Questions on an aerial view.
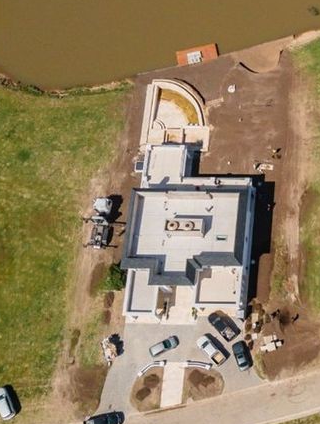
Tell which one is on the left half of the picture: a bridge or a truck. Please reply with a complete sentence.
Visible on the left half of the picture is a truck.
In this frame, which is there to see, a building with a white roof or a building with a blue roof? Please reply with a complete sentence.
There is a building with a white roof in the scene.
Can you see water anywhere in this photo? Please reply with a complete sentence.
Yes, some water is visible.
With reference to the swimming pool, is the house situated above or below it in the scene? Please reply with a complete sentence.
Looking at the scene, the house is located below the swimming pool.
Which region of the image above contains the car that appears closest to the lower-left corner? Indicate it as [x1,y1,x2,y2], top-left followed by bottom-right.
[0,387,18,422]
